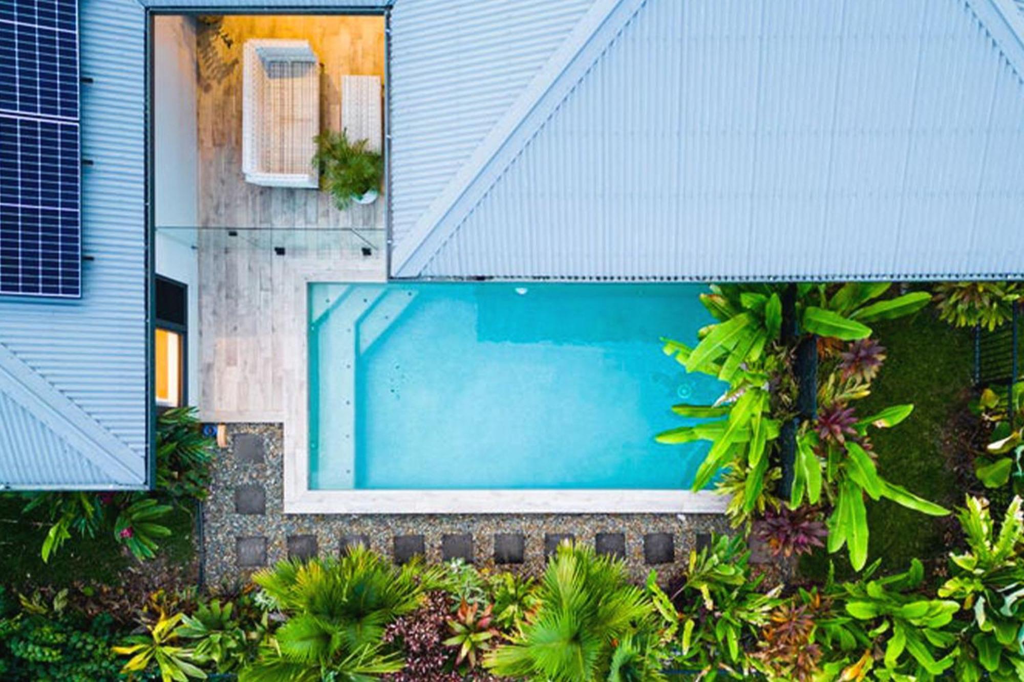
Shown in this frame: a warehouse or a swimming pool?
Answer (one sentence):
The one in the frame is a swimming pool.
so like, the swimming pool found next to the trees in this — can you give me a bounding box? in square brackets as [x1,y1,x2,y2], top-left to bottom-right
[308,282,736,490]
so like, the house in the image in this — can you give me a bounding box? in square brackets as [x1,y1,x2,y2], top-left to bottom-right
[0,0,1024,494]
